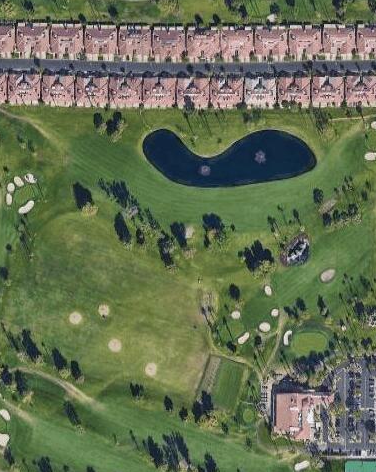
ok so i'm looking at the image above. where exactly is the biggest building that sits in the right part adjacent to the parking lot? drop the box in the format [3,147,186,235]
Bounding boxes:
[262,376,336,441]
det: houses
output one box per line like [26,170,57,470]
[345,76,376,106]
[76,76,108,106]
[177,75,209,106]
[152,24,185,59]
[118,24,150,59]
[244,75,276,106]
[255,24,287,59]
[221,24,253,59]
[9,75,41,106]
[356,24,376,59]
[42,75,74,106]
[0,24,15,59]
[312,75,344,106]
[144,75,175,106]
[84,24,116,59]
[109,76,142,106]
[277,76,310,106]
[323,24,355,59]
[289,24,321,59]
[17,24,49,59]
[51,24,82,59]
[187,24,219,59]
[211,75,242,106]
